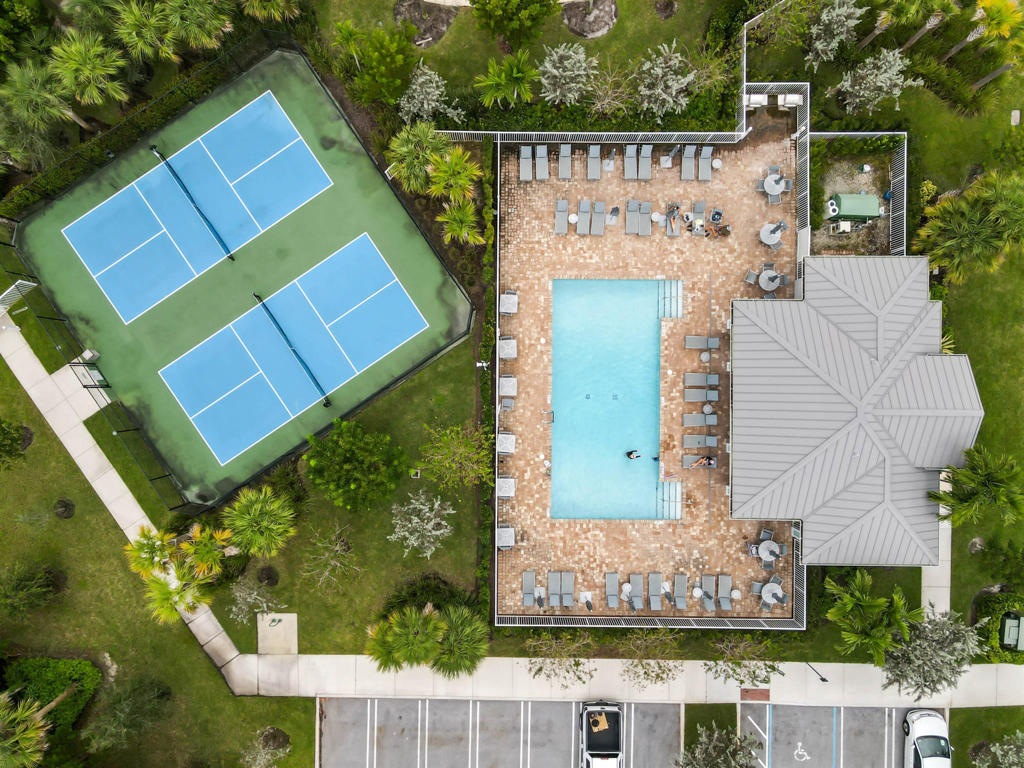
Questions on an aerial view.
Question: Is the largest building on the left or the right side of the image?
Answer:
right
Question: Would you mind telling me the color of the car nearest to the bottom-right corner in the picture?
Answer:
white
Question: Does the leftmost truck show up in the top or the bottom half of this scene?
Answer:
bottom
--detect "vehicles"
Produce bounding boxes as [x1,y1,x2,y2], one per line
[900,706,951,768]
[580,692,623,768]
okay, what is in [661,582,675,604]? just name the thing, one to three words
umbrella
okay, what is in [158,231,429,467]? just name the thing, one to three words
sports court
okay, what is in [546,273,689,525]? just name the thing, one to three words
swimming pool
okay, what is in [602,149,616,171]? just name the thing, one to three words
umbrella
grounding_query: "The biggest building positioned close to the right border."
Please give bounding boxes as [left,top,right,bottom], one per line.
[726,255,988,567]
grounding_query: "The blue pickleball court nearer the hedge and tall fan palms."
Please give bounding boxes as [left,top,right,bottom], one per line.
[60,89,334,325]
